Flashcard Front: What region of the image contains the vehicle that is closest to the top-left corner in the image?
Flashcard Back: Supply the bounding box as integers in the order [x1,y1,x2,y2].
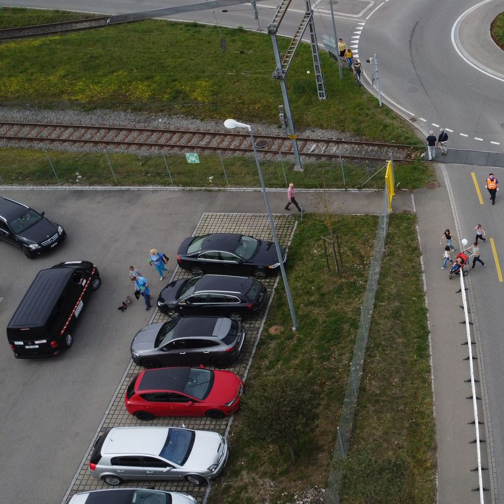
[0,191,65,260]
